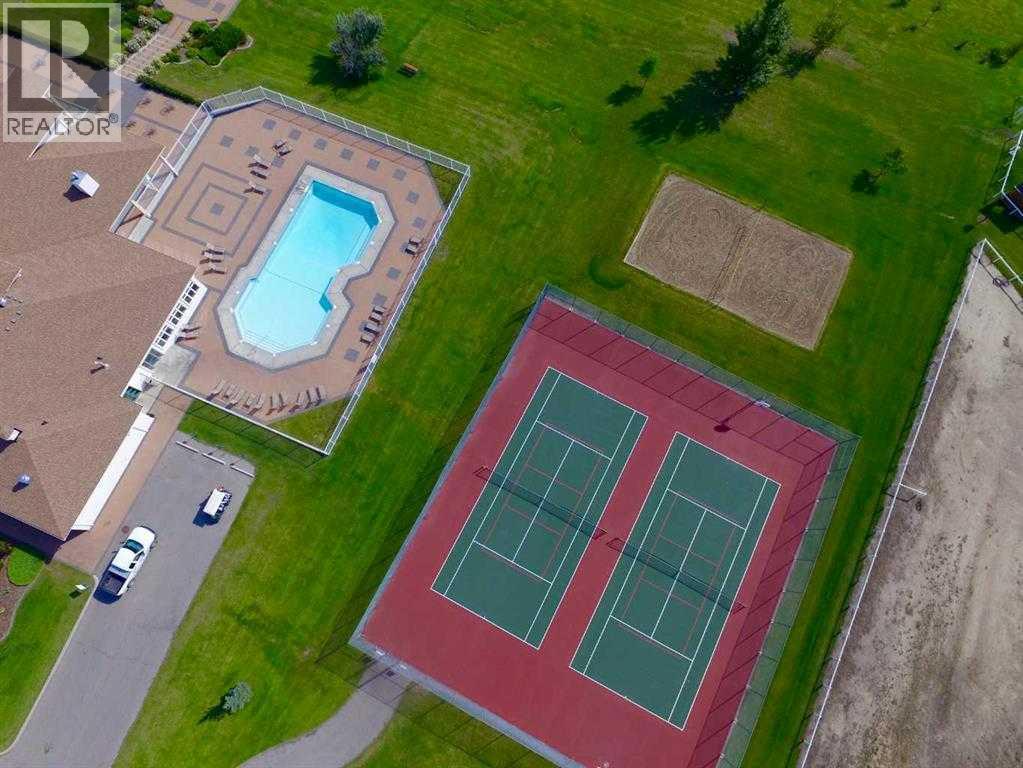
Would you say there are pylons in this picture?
No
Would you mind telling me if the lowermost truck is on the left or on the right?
left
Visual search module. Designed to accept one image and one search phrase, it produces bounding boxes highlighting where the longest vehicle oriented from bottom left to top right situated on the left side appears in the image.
[92,525,159,599]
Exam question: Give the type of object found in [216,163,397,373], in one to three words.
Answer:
swimming pool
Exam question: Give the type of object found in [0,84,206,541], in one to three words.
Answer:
building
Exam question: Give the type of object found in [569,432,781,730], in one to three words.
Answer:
tennis court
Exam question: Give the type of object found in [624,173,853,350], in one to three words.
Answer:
sports court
